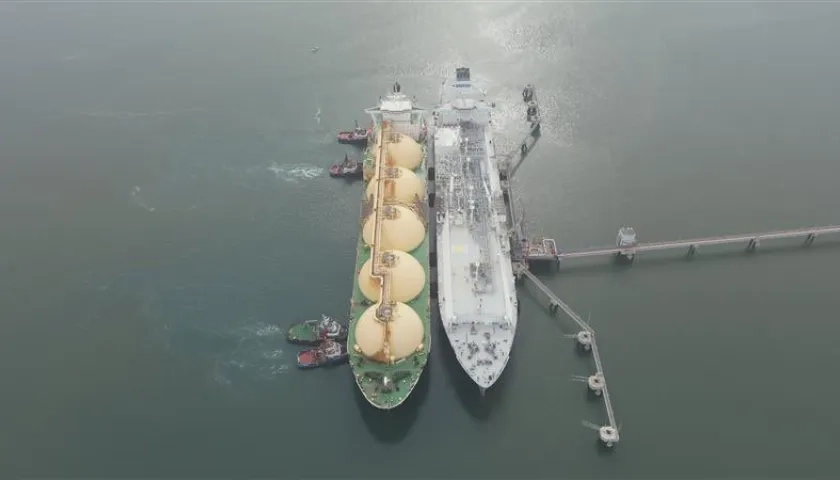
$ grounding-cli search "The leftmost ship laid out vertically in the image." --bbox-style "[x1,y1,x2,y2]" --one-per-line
[347,81,431,409]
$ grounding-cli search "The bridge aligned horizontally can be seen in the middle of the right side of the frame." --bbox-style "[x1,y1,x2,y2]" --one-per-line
[557,226,840,262]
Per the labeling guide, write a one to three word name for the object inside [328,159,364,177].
boat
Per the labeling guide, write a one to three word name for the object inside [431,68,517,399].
ship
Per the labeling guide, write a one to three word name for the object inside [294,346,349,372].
boat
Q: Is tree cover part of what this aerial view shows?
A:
No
